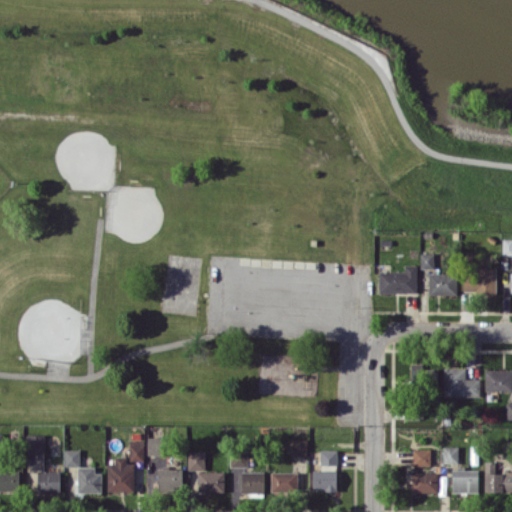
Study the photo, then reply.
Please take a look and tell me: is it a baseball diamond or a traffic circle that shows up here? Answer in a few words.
baseball diamond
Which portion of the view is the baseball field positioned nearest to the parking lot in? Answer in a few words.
left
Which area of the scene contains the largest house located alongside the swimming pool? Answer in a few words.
bottom left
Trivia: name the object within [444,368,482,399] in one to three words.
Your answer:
house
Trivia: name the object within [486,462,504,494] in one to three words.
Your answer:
house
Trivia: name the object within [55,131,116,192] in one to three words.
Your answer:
baseball field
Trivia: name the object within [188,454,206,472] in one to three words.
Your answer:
building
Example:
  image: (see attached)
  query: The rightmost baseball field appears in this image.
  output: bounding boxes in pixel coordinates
[105,186,164,243]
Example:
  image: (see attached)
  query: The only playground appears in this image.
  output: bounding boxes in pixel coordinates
[258,356,318,397]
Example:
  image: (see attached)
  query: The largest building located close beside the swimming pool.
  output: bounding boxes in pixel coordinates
[107,460,134,495]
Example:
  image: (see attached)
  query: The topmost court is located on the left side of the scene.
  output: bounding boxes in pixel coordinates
[162,256,202,317]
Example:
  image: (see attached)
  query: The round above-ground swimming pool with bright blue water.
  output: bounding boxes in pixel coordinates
[108,438,124,456]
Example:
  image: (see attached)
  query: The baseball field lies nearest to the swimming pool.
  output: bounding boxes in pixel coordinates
[18,299,80,363]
